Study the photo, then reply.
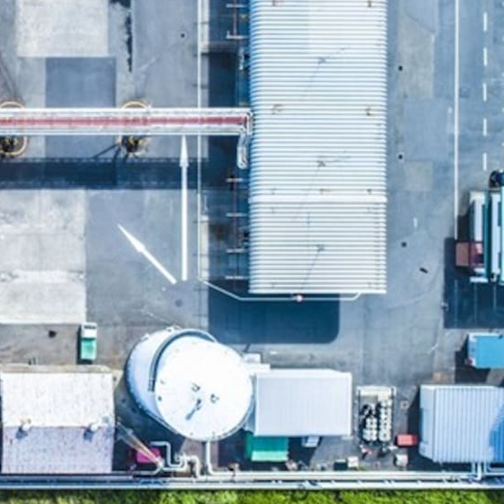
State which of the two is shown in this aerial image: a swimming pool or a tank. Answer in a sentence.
There is a tank in the scene.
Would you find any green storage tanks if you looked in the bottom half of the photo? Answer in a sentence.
No, no green storage tank is visible in the bottom half of the photo.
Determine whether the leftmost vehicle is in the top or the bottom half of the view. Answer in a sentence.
The leftmost vehicle is in the bottom half of the image.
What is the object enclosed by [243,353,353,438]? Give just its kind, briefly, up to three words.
shed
